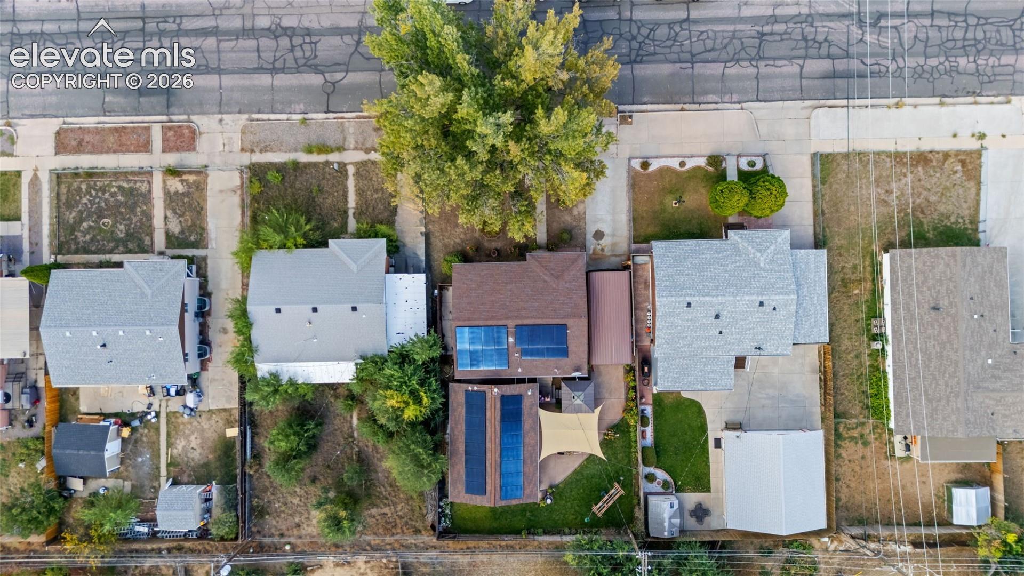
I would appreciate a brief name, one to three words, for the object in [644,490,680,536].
shed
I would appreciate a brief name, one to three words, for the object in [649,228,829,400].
house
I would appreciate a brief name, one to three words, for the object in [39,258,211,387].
house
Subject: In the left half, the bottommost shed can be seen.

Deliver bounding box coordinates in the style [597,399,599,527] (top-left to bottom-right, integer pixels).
[157,477,209,531]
